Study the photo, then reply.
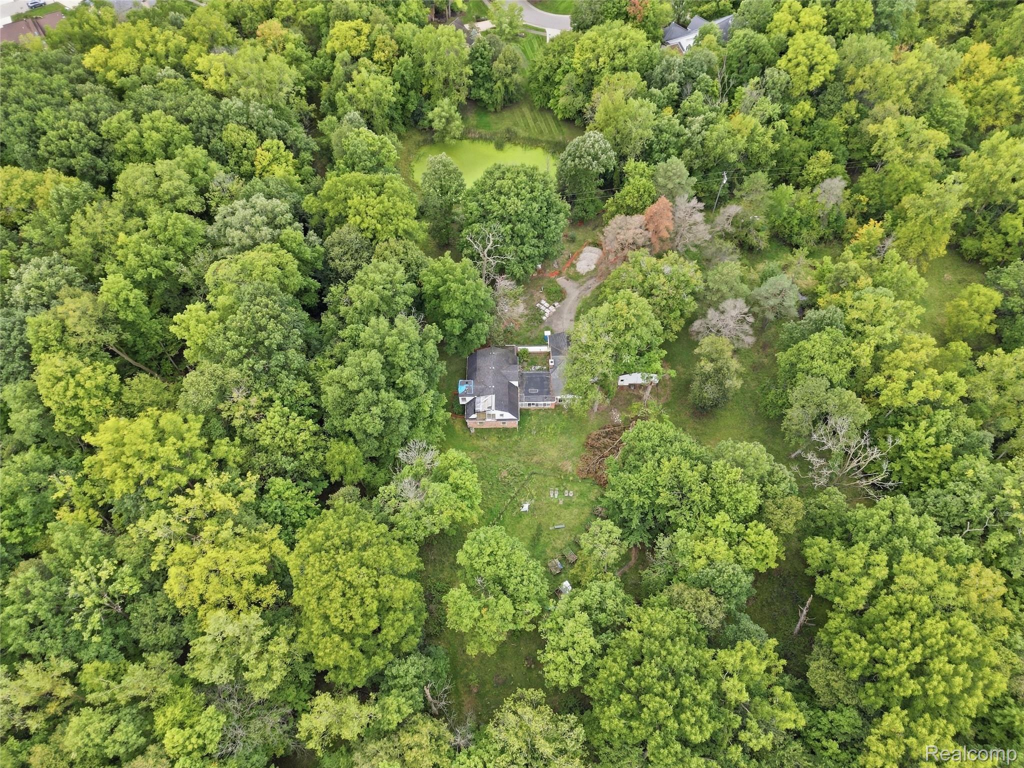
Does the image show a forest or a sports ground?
forest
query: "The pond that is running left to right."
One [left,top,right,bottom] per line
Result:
[413,142,560,189]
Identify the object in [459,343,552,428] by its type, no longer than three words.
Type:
house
